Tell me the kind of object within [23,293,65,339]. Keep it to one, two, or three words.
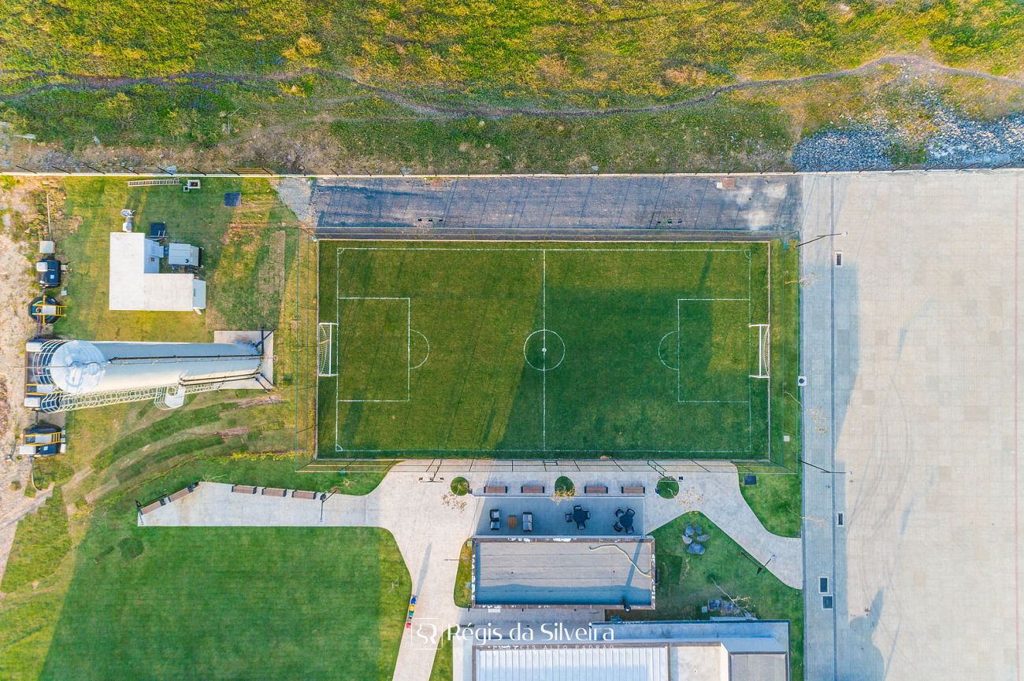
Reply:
storage tank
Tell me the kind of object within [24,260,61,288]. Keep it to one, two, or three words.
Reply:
storage tank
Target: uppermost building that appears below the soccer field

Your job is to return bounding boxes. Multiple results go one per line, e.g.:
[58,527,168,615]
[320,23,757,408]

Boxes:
[473,536,655,613]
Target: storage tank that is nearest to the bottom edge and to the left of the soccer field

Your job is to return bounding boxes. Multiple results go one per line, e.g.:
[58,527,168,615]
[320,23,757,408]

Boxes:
[10,428,63,488]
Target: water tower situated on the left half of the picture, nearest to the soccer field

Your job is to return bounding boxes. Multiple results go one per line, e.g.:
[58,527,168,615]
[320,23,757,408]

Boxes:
[13,325,279,412]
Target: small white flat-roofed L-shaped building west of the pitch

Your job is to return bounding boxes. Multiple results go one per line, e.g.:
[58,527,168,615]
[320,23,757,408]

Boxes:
[109,232,207,312]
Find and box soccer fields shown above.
[316,237,771,462]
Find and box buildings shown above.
[109,232,207,312]
[473,536,655,613]
[473,615,789,681]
